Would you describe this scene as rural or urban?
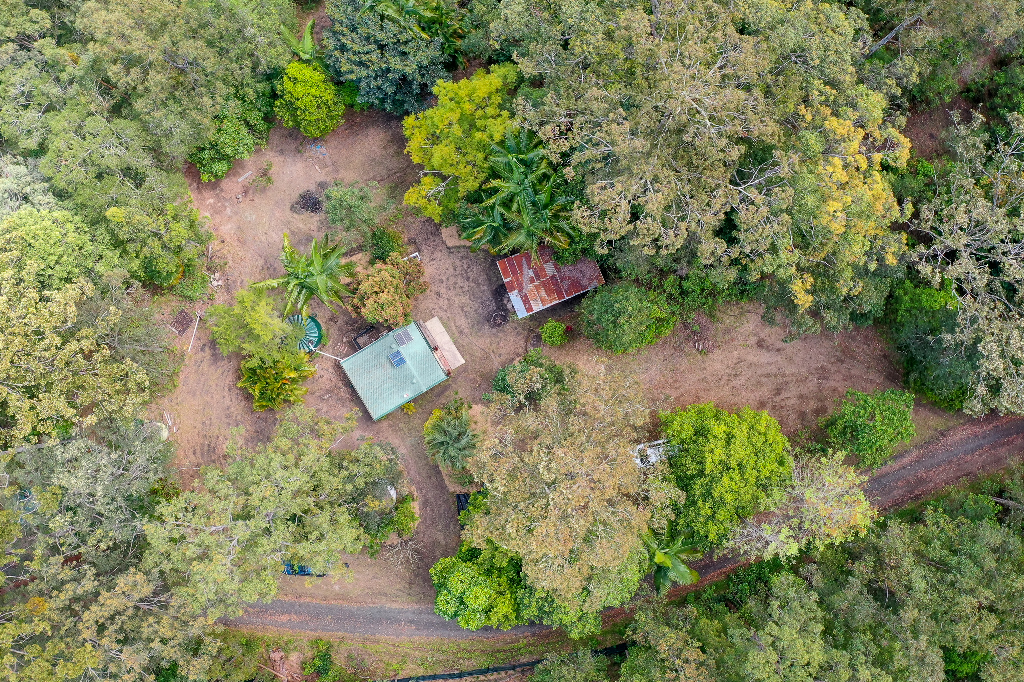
rural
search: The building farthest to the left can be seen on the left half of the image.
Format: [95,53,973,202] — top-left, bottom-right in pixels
[340,322,448,423]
